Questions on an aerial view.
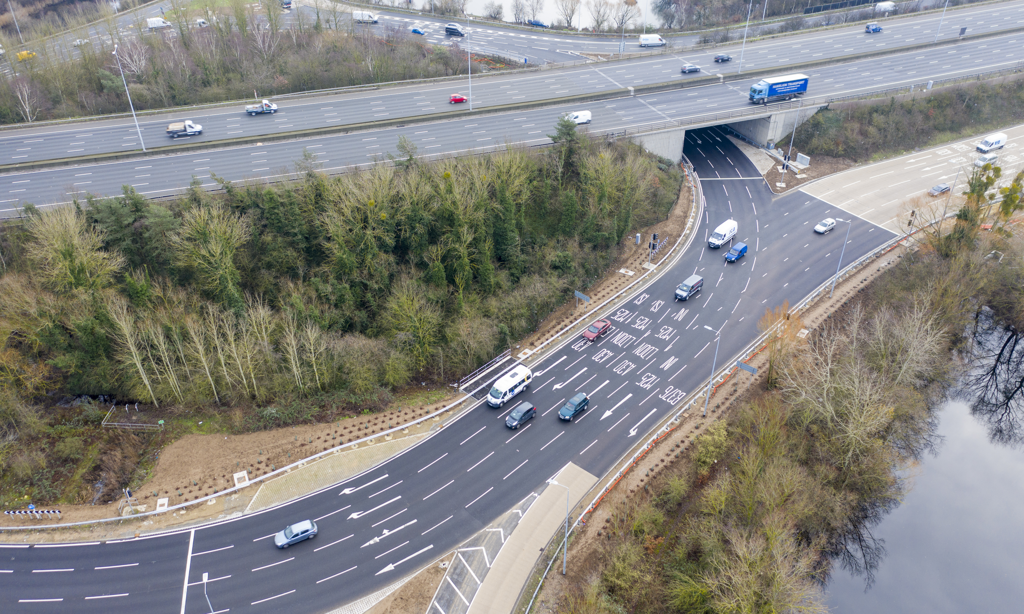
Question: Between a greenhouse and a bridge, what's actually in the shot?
bridge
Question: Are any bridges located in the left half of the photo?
No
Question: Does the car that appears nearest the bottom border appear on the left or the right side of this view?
left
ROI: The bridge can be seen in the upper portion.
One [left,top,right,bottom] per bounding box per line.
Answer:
[542,47,836,166]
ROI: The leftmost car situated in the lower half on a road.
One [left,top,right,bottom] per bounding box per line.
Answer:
[272,517,320,549]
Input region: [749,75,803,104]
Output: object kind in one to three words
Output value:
truck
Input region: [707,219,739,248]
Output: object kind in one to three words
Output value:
van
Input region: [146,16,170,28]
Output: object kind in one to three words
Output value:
vehicle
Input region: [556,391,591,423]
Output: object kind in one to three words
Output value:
car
